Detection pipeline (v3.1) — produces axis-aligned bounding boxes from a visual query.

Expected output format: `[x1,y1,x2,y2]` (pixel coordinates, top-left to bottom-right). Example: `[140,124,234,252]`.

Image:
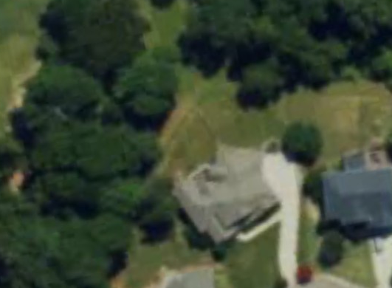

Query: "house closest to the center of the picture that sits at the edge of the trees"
[172,145,282,242]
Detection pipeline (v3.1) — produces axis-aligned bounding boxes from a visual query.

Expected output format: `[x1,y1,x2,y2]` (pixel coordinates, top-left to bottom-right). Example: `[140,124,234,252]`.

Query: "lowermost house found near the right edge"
[323,167,392,234]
